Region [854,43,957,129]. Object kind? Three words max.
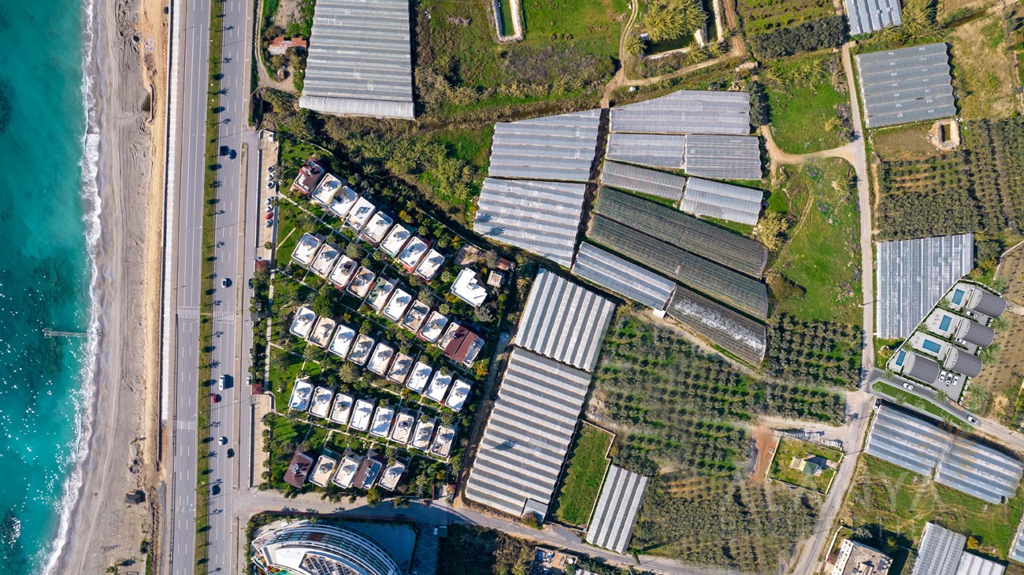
greenhouse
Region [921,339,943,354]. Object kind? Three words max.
swimming pool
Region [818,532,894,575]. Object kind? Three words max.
building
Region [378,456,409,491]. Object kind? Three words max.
house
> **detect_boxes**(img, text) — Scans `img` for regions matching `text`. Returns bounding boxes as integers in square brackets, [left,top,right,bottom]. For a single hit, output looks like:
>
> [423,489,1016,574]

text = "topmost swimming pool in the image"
[951,288,966,306]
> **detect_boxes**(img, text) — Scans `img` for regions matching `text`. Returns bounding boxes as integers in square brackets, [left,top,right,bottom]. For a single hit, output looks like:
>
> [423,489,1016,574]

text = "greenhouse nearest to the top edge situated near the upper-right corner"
[844,0,902,37]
